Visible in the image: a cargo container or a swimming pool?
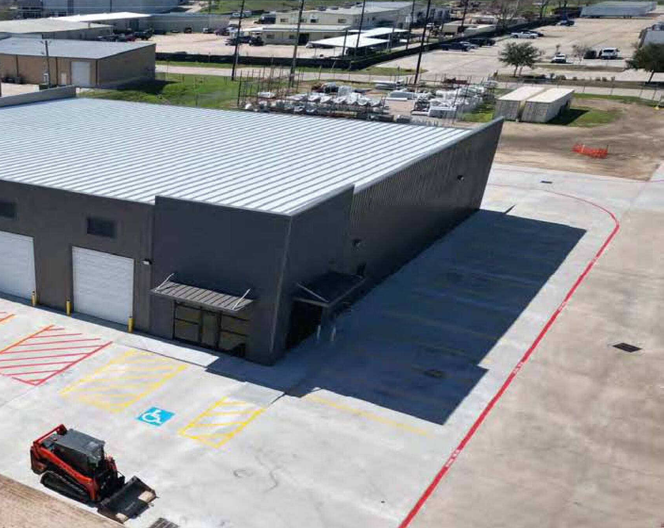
cargo container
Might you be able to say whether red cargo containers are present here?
No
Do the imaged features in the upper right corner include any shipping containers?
Yes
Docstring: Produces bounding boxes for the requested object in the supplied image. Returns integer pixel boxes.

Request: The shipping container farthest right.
[515,90,576,129]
